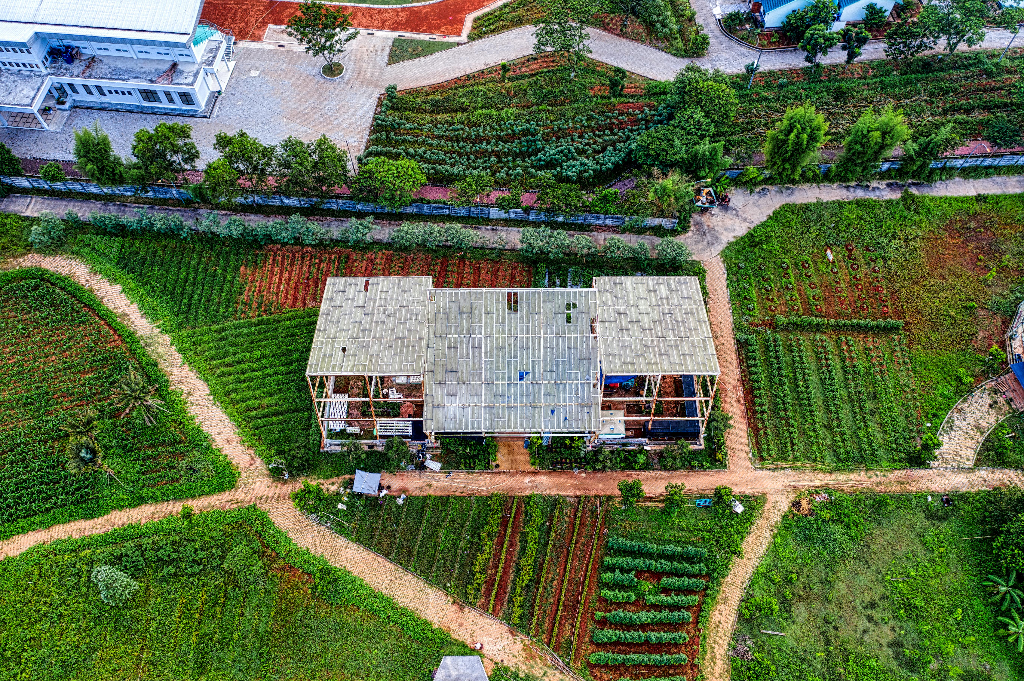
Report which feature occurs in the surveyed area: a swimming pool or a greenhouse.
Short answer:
greenhouse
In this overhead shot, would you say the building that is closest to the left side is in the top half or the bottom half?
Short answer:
top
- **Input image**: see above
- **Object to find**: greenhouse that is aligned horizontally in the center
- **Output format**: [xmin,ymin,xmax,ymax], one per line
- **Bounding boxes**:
[304,275,721,453]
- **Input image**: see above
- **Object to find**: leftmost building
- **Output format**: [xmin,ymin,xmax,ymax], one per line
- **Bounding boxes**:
[0,0,240,133]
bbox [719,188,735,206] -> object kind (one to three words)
work vehicle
